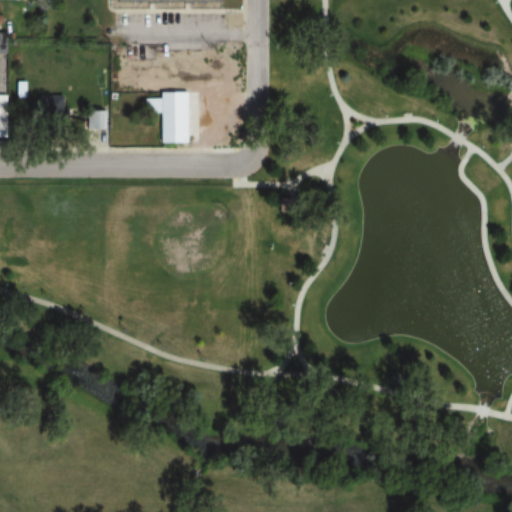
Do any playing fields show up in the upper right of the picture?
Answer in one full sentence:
No, I can find no playing field in the upper right of the picture.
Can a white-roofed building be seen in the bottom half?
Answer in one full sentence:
No, no white-roofed building can be made out in the bottom half.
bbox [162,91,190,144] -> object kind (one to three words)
building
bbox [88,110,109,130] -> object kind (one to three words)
house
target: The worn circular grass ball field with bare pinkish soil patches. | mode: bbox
[154,200,234,280]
